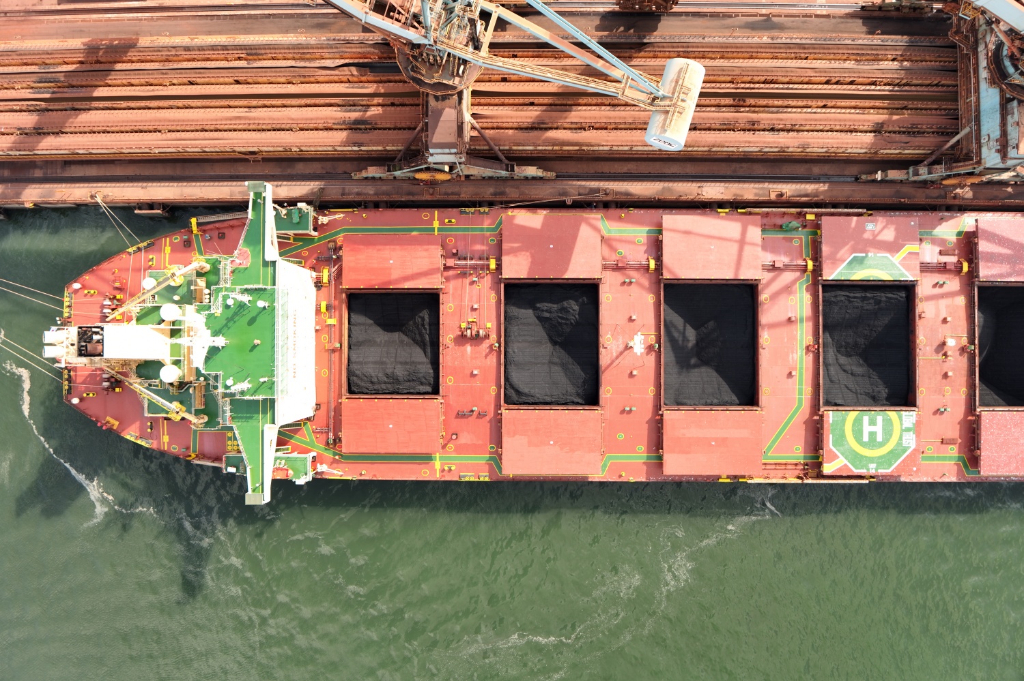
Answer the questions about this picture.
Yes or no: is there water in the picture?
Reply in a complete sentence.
Yes, some water is visible.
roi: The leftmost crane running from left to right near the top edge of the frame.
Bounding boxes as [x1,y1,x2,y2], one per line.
[317,0,711,188]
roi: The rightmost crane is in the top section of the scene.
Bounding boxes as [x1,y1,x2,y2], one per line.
[855,0,1024,188]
